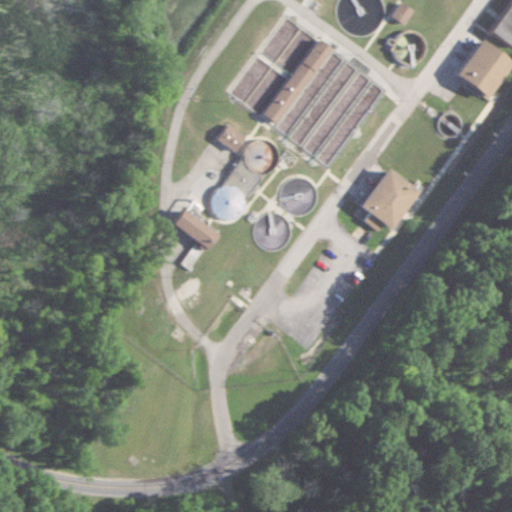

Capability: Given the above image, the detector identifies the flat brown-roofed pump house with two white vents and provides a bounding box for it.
[218,125,246,153]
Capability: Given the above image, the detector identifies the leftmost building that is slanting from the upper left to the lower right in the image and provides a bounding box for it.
[177,211,220,250]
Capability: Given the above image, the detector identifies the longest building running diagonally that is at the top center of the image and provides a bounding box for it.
[266,42,332,122]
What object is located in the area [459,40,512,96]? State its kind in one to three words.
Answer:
building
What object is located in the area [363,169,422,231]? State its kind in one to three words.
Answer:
building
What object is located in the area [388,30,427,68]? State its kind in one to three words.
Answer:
storage tank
